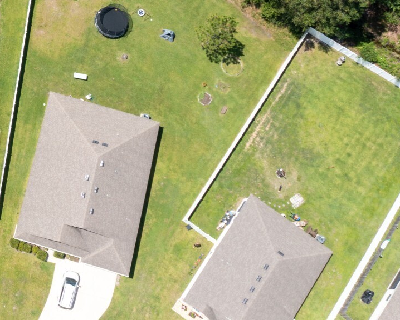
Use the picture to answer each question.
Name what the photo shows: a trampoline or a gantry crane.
trampoline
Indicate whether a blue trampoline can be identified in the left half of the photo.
No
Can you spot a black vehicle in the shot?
No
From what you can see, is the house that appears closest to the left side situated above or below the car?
above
